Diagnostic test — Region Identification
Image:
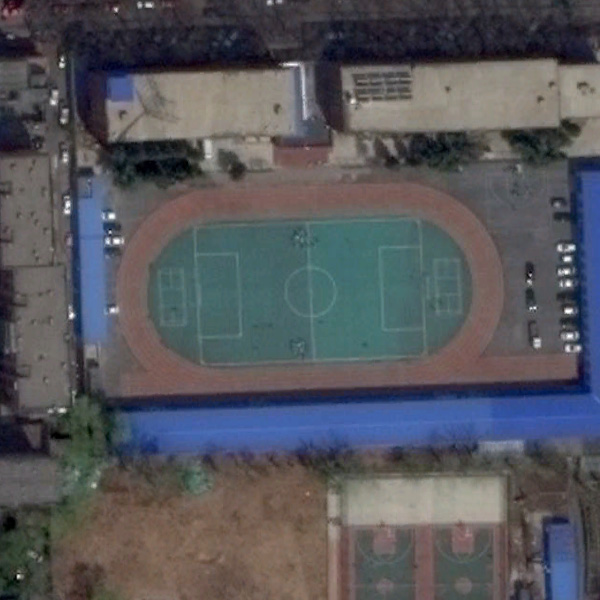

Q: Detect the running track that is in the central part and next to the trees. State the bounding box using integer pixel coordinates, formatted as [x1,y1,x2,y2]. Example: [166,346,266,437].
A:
[117,182,575,412]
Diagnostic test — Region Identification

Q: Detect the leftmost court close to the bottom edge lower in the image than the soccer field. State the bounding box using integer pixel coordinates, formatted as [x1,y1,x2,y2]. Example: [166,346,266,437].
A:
[357,527,411,600]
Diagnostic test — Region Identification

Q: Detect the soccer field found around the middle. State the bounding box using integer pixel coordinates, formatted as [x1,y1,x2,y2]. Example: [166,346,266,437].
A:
[151,218,469,364]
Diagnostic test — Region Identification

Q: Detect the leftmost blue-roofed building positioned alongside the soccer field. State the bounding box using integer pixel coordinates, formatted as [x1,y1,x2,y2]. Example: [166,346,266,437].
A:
[77,173,108,344]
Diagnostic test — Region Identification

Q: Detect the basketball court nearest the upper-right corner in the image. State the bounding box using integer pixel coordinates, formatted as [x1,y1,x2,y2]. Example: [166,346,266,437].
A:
[485,171,548,275]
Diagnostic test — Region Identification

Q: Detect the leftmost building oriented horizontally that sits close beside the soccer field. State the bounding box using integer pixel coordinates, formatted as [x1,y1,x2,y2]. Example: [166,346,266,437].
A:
[101,66,293,141]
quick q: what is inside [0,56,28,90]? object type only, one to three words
house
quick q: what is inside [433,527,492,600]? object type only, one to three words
basketball court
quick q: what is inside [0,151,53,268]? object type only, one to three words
building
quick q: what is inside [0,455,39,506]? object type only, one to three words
building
